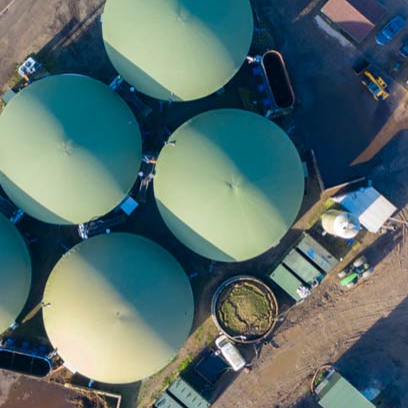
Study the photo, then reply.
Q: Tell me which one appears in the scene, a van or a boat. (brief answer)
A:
van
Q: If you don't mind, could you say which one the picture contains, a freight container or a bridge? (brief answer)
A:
freight container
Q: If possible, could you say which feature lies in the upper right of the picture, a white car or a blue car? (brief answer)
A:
blue car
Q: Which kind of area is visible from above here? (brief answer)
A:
industrial area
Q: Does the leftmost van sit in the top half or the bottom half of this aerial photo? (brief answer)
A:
bottom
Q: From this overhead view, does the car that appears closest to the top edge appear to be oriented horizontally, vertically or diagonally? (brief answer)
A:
diagonally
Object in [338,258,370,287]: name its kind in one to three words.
work vehicle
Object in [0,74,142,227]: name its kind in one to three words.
storage tank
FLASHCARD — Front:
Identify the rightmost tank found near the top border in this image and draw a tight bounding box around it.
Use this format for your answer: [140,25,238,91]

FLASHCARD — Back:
[101,0,254,106]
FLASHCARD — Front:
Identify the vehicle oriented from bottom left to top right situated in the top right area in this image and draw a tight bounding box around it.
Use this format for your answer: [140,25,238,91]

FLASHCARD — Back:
[374,15,405,47]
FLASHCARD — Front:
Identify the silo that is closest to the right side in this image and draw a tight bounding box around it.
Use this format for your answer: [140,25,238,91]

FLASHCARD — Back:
[322,210,361,239]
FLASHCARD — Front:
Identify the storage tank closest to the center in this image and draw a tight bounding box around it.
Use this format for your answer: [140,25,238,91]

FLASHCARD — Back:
[149,109,309,262]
